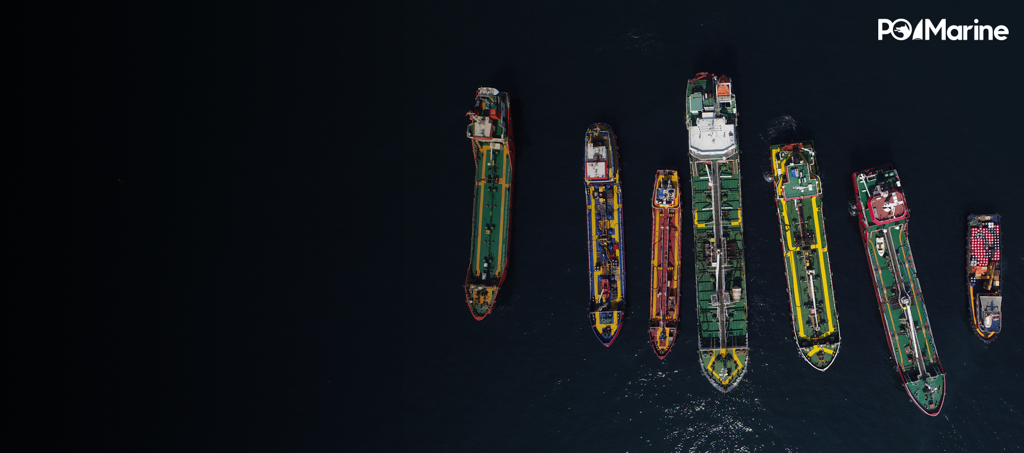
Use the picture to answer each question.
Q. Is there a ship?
Yes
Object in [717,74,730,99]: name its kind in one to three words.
boat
